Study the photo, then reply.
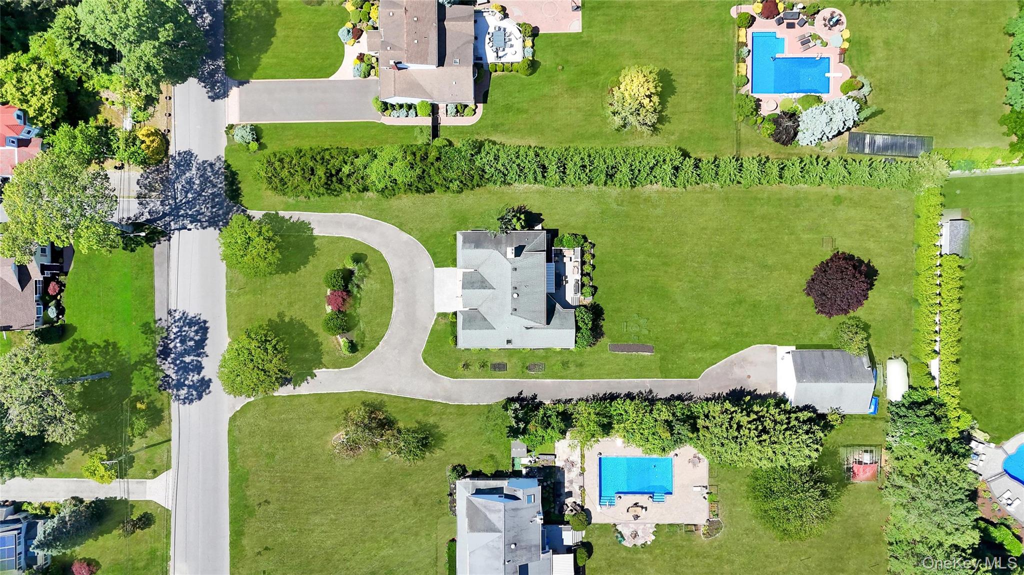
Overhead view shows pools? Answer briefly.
Yes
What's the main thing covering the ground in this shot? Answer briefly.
grass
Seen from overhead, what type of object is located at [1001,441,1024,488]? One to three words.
swimming pool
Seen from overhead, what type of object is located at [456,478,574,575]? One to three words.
house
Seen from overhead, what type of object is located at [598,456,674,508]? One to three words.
swimming pool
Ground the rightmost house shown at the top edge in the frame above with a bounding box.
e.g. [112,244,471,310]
[365,0,477,106]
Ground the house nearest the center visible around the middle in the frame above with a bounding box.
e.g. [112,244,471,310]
[457,231,576,348]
